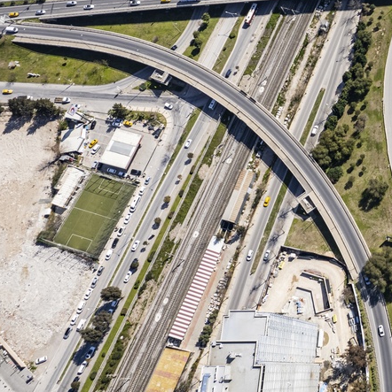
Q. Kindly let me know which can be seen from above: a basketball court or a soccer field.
soccer field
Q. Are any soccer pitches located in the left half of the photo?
Yes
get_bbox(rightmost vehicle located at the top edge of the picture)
[244,2,261,27]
